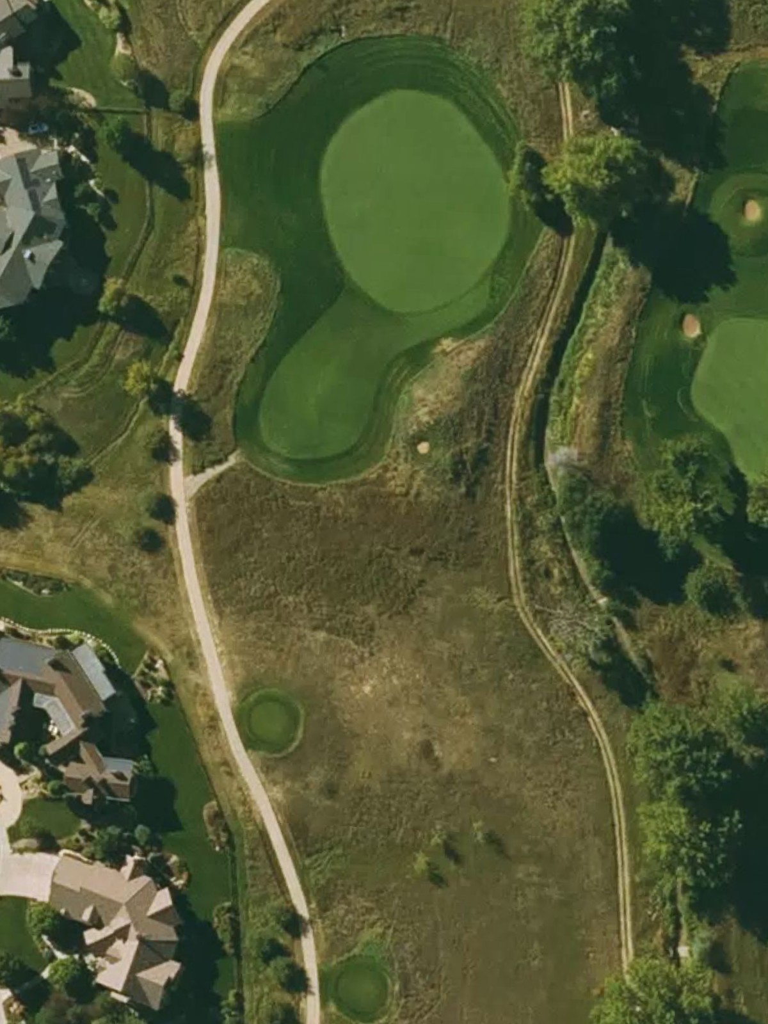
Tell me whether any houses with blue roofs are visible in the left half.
No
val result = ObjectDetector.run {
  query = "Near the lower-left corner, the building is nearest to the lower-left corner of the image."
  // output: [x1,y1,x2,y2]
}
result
[49,855,182,1011]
